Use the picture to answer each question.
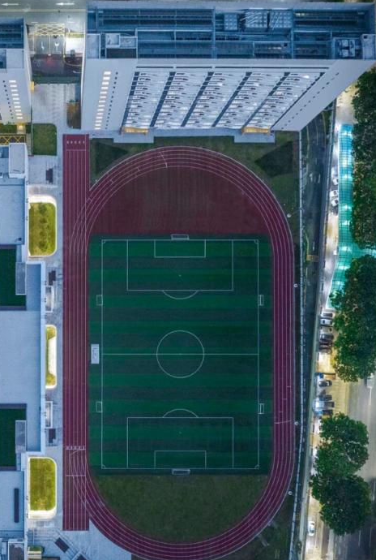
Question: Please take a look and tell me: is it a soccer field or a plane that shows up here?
soccer field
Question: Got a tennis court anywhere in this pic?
No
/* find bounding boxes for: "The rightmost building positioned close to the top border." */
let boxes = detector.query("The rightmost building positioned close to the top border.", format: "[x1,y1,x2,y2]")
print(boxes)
[79,5,376,143]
